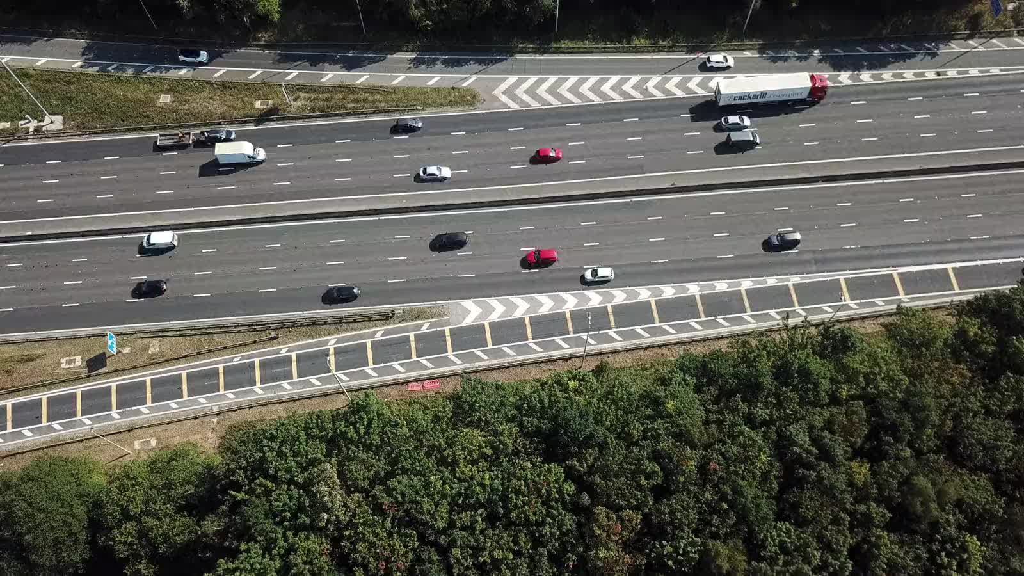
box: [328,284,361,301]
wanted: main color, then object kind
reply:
black car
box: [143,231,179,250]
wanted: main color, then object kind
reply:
white vehicle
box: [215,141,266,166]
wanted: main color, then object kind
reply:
white vehicle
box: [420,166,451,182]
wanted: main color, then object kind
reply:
white car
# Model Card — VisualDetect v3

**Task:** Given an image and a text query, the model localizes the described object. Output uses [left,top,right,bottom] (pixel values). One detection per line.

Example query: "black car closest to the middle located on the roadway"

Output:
[436,233,468,249]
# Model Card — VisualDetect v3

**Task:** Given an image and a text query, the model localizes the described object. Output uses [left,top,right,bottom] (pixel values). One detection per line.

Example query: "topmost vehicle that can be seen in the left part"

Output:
[179,50,209,64]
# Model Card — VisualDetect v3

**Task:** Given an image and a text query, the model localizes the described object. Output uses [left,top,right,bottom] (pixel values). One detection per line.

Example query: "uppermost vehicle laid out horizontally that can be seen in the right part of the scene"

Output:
[705,55,734,69]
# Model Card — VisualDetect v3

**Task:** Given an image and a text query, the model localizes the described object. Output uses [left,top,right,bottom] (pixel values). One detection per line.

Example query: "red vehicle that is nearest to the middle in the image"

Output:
[527,248,558,265]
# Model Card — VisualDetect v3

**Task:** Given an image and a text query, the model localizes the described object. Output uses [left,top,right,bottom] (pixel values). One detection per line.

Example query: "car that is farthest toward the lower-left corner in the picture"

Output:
[138,280,170,296]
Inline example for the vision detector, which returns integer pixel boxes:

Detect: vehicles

[138,280,170,296]
[527,248,558,265]
[202,128,236,144]
[720,115,751,130]
[328,284,361,301]
[420,166,451,182]
[583,266,615,283]
[537,147,564,163]
[713,75,826,111]
[436,233,468,249]
[179,50,209,64]
[705,55,734,69]
[768,231,804,248]
[215,141,266,166]
[395,118,424,133]
[143,231,179,250]
[726,129,760,147]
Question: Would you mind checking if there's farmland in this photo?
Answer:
No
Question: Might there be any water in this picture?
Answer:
No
